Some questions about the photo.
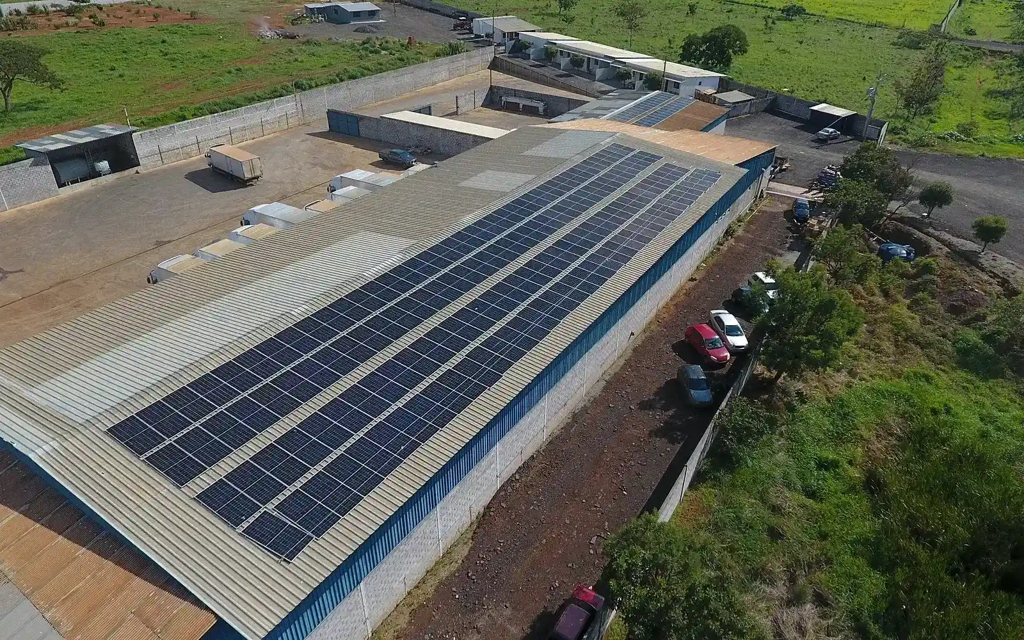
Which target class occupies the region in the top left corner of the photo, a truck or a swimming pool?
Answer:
truck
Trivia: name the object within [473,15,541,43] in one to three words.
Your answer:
building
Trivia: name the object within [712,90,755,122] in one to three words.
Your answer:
shed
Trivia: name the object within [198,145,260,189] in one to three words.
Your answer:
truck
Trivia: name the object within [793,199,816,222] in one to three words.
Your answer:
car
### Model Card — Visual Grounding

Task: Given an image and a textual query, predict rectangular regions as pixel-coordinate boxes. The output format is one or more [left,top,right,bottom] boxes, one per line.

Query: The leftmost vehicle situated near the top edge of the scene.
[454,17,470,31]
